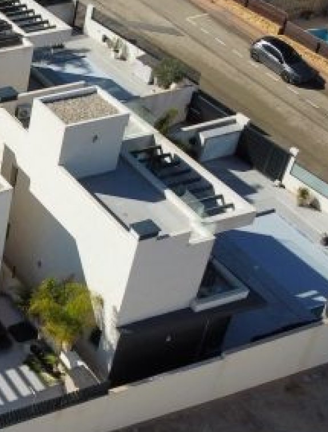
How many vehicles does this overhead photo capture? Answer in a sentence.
In total, 1 vehicle can be seen.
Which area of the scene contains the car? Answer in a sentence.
You can find the car in the top right area of the picture.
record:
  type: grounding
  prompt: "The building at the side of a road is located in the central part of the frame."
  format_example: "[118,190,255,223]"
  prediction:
[0,72,260,382]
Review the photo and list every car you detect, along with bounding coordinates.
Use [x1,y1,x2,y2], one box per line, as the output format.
[252,34,317,78]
